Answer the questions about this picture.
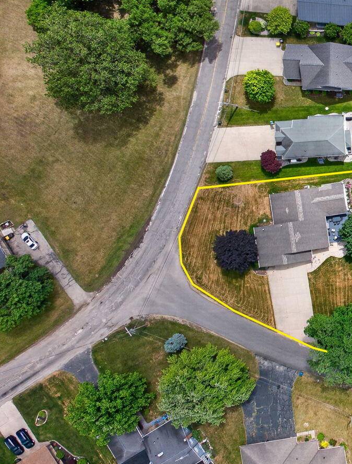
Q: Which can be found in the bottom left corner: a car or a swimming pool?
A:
car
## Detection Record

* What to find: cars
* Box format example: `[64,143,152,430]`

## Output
[21,230,39,251]
[15,426,34,449]
[3,434,23,457]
